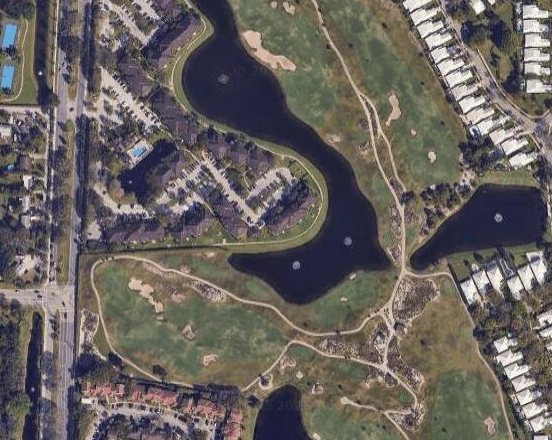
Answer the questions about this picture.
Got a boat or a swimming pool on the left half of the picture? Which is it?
swimming pool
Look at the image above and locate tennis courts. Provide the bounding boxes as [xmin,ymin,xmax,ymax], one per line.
[0,61,18,94]
[0,20,19,50]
